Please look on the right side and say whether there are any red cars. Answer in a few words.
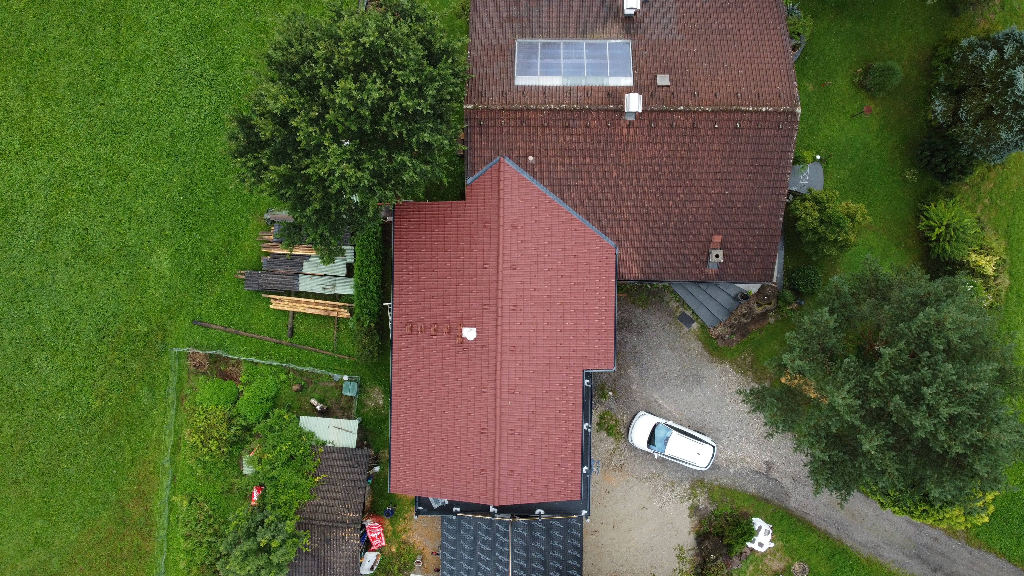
No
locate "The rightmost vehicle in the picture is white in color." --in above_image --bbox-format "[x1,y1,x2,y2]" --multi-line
[625,409,720,472]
